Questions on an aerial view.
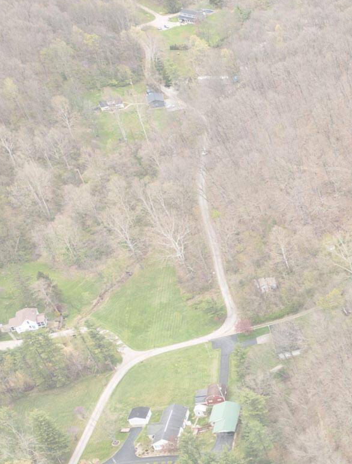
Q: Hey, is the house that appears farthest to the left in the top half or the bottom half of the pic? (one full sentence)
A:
The house that appears farthest to the left is in the bottom half of the image.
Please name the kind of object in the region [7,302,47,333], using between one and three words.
house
